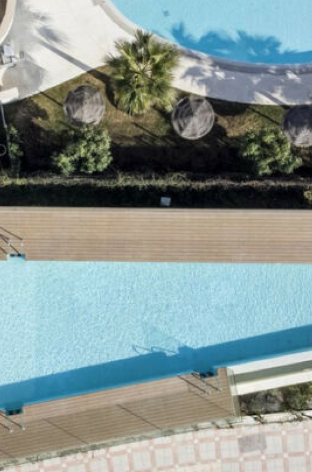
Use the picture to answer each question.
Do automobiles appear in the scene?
No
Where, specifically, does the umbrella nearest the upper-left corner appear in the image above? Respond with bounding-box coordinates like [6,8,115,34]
[61,84,106,126]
